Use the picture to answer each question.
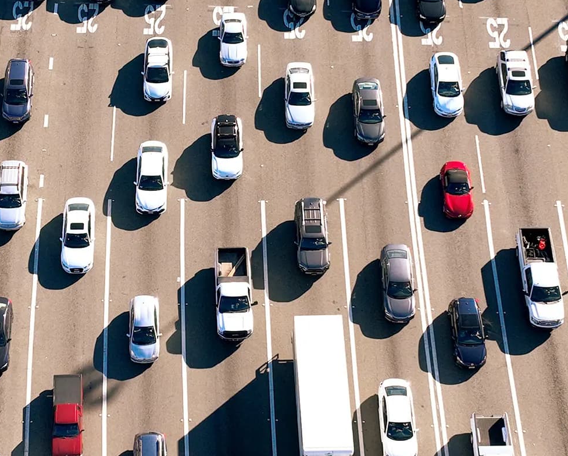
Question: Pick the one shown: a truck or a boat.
truck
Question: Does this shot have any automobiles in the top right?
Yes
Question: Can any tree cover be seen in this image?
No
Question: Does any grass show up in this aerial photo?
No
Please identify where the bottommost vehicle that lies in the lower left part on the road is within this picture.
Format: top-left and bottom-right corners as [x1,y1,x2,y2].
[133,429,167,456]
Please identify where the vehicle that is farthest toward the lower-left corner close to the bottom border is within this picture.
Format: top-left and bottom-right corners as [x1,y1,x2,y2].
[45,374,87,456]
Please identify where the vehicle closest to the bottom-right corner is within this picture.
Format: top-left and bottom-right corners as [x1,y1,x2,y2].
[466,410,508,456]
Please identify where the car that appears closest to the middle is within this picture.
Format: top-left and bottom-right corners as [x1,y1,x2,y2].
[294,196,335,277]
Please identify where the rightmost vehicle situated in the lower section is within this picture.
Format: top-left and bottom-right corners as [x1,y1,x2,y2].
[516,227,568,329]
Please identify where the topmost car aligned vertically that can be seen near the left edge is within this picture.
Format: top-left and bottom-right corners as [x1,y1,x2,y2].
[0,58,35,125]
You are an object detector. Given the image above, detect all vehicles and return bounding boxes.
[141,35,176,104]
[377,375,421,456]
[289,0,316,19]
[516,227,568,329]
[415,0,446,25]
[45,374,87,456]
[0,58,35,125]
[438,159,476,220]
[133,429,167,456]
[351,75,388,147]
[447,295,491,372]
[0,159,28,232]
[59,195,96,276]
[0,295,13,374]
[294,196,335,277]
[466,410,508,456]
[428,50,467,119]
[379,241,420,325]
[134,139,170,216]
[283,60,317,131]
[213,247,257,341]
[218,12,251,69]
[352,0,380,20]
[288,315,354,456]
[125,293,164,365]
[496,50,539,117]
[208,113,246,181]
